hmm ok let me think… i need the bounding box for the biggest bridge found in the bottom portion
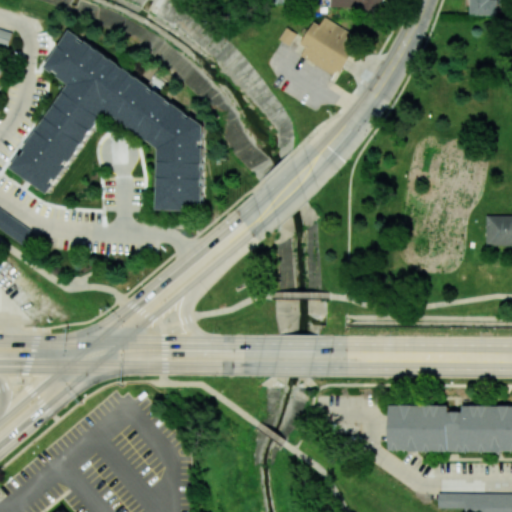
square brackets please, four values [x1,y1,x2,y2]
[259,335,334,378]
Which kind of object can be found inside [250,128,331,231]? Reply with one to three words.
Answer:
bridge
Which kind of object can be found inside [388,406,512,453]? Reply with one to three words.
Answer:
building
